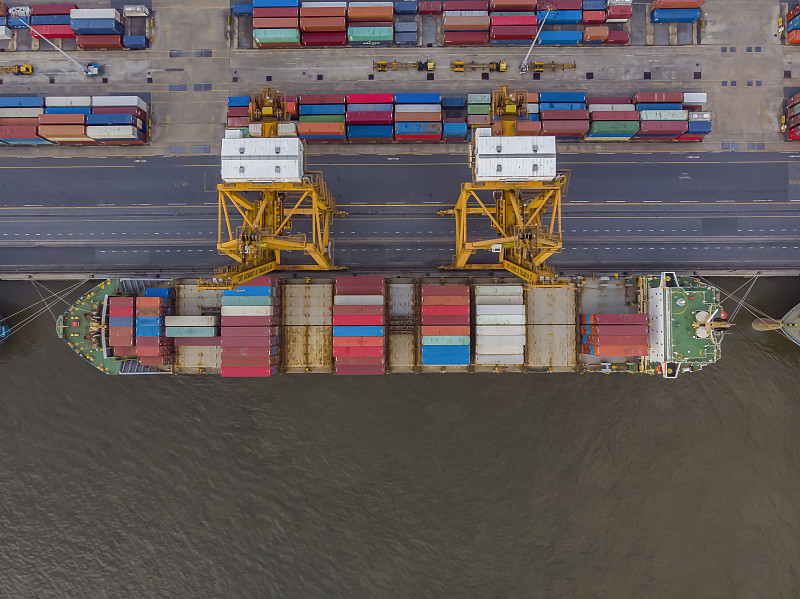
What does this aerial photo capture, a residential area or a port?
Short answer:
port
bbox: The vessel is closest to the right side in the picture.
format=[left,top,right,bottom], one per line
[752,298,800,341]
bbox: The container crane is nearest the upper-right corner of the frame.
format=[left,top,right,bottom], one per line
[438,87,576,291]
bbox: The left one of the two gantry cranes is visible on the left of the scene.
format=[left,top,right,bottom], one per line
[190,88,343,292]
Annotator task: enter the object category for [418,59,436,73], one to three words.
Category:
vehicle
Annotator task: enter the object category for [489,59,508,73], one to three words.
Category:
vehicle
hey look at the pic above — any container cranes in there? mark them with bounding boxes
[190,88,343,292]
[438,87,576,291]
